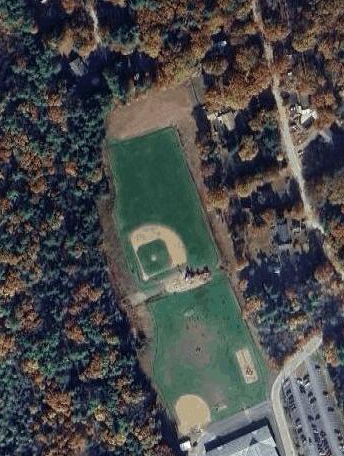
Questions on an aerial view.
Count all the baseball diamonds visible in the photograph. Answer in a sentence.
The photo contains 2 baseball diamonds.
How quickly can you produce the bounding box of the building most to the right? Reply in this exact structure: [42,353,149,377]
[290,105,316,128]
